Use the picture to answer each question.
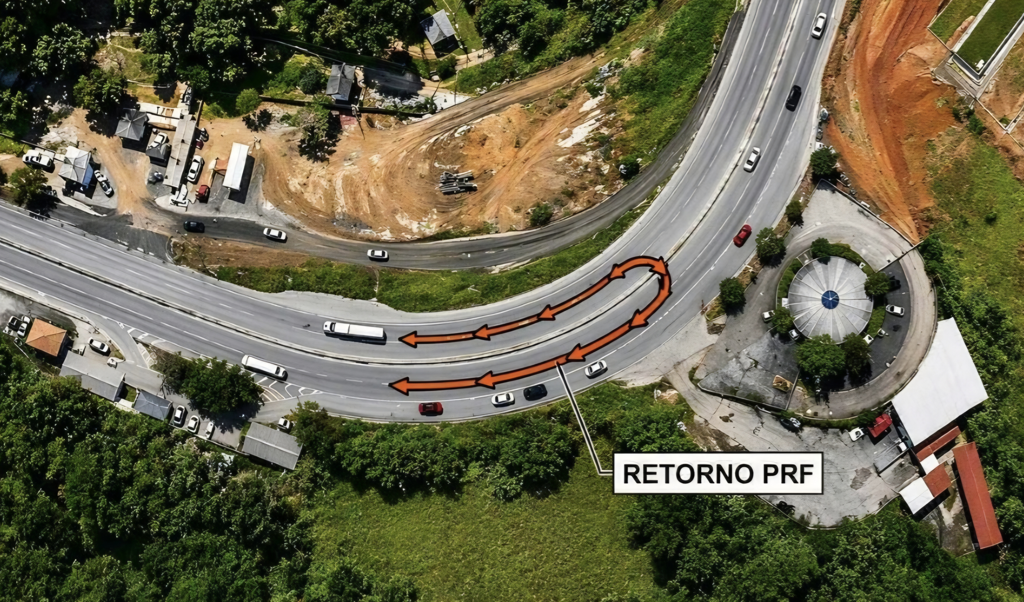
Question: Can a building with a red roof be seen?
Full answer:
Yes, the image includes a building with a red roof.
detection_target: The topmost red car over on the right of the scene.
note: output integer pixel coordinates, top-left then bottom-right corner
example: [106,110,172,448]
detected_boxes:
[733,224,750,247]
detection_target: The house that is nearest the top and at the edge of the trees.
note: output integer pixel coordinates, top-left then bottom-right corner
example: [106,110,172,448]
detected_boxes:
[420,9,456,49]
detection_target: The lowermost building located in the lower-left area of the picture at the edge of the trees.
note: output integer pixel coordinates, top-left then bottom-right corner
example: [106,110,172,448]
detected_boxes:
[243,421,306,469]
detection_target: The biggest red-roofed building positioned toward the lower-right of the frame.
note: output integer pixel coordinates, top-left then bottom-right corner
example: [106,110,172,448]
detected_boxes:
[942,440,1003,549]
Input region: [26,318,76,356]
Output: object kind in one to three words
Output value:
house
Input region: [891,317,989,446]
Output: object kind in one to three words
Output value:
building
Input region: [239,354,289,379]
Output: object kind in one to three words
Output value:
bus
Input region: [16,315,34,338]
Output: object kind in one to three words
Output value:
car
